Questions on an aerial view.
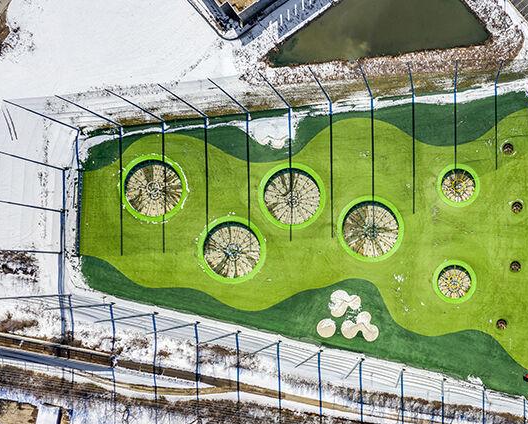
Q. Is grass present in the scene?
Yes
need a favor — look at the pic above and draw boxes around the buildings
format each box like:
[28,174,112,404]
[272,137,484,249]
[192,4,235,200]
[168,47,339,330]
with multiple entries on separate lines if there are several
[37,403,66,424]
[213,0,278,26]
